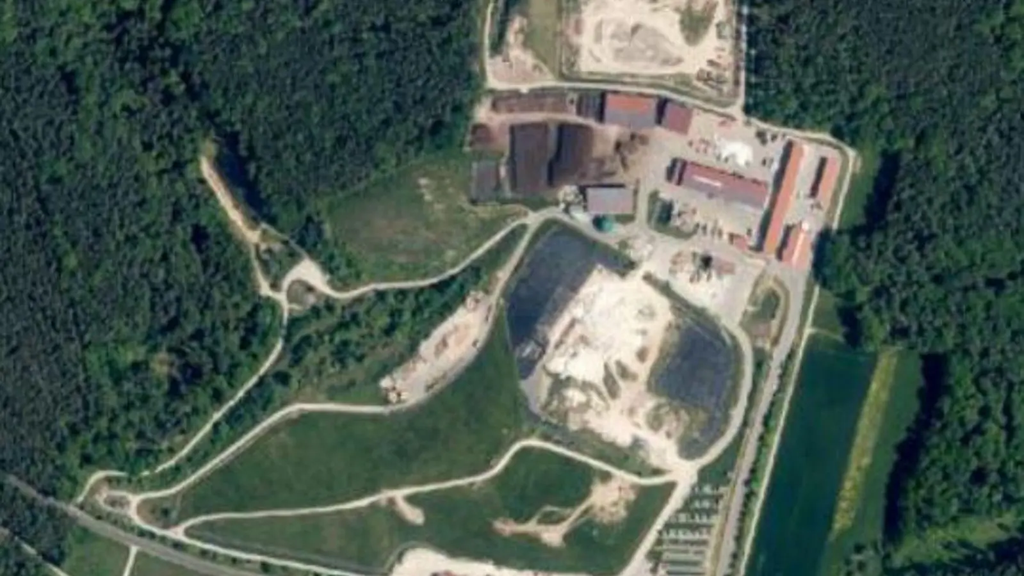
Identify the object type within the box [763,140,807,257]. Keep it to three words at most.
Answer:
barn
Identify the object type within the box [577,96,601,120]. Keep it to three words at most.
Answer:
shed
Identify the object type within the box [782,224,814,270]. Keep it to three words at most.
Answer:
house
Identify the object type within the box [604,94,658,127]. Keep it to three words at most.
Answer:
building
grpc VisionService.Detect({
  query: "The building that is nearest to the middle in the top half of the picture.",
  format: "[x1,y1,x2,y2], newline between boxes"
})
[587,186,635,213]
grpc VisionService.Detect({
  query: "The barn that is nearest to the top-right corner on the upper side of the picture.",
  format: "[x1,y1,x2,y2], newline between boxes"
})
[819,156,842,205]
